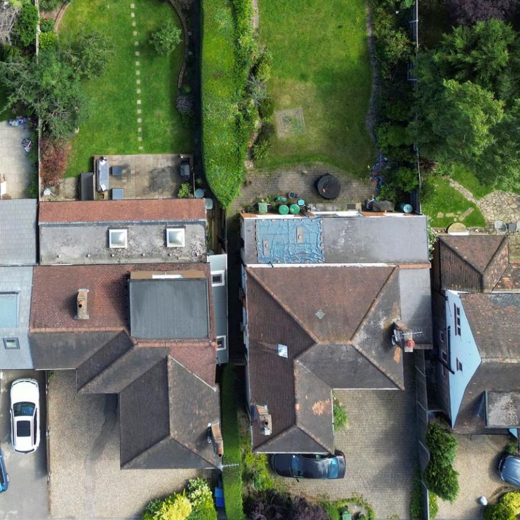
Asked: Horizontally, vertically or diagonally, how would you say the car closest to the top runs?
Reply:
vertically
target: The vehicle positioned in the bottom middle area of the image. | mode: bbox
[273,451,349,489]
